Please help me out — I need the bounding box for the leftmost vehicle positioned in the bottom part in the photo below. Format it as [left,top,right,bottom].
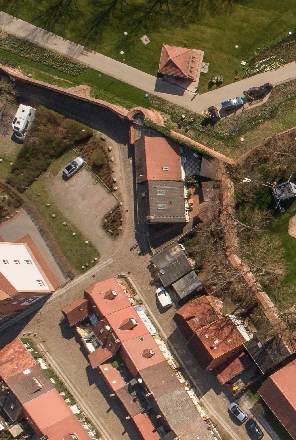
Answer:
[154,285,175,310]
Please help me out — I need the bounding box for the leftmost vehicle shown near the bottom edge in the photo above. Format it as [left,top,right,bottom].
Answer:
[225,400,251,426]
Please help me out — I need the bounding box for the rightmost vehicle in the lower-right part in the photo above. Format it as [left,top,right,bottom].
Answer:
[244,416,268,440]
